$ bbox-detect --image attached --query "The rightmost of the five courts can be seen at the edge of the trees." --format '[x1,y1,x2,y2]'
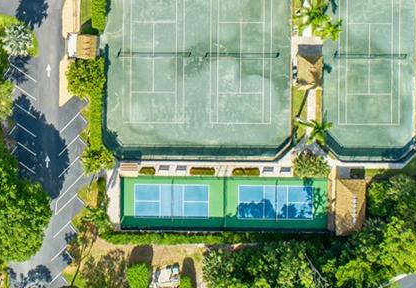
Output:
[323,0,416,160]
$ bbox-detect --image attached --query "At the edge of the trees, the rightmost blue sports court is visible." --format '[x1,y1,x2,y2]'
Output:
[225,177,328,229]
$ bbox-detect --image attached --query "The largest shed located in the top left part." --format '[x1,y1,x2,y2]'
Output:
[68,33,98,60]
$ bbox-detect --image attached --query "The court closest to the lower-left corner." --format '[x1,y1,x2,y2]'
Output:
[121,177,225,229]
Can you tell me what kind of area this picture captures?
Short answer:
sports ground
